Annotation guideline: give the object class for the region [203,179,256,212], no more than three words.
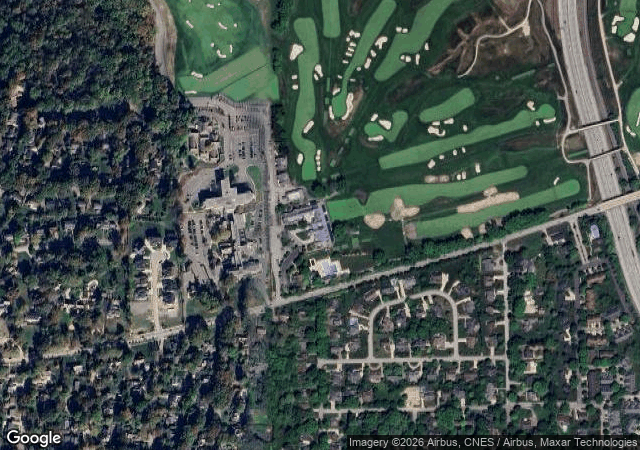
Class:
building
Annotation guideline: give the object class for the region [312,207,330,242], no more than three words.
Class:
building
